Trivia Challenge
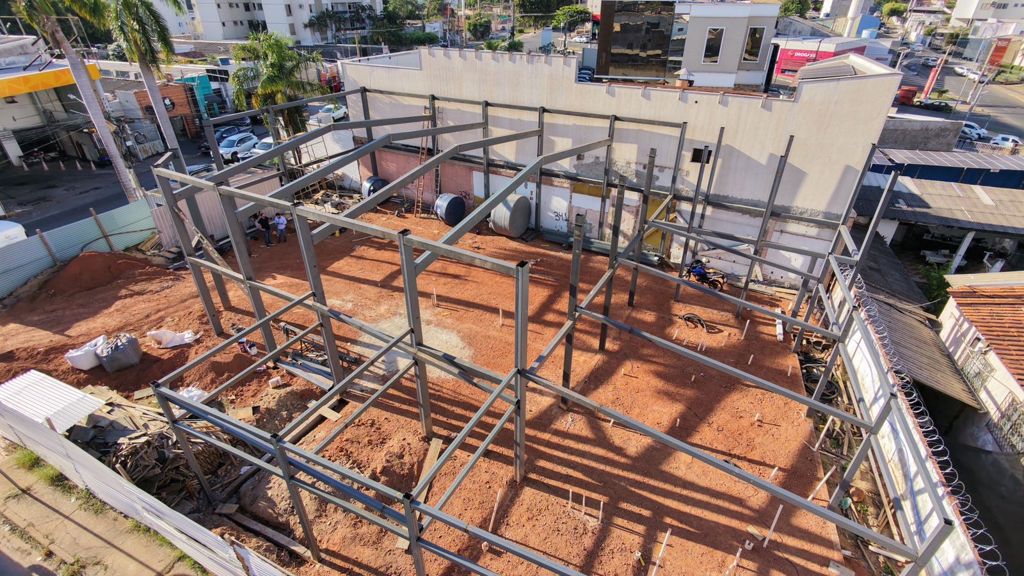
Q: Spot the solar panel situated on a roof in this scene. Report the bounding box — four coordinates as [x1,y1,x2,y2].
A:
[799,64,860,79]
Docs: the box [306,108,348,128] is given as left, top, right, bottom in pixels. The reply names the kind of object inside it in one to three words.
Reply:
car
